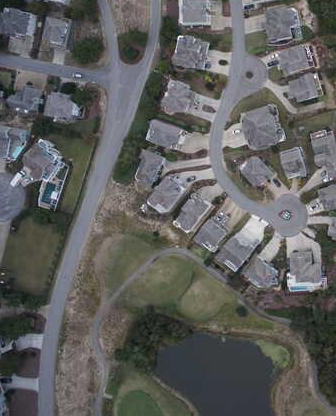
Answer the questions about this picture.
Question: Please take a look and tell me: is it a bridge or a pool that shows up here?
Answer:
pool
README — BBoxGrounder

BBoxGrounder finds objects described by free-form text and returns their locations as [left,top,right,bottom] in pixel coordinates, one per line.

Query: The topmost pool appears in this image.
[10,139,27,159]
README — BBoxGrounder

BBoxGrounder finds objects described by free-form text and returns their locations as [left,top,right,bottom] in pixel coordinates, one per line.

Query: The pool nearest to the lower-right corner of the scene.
[288,279,320,292]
